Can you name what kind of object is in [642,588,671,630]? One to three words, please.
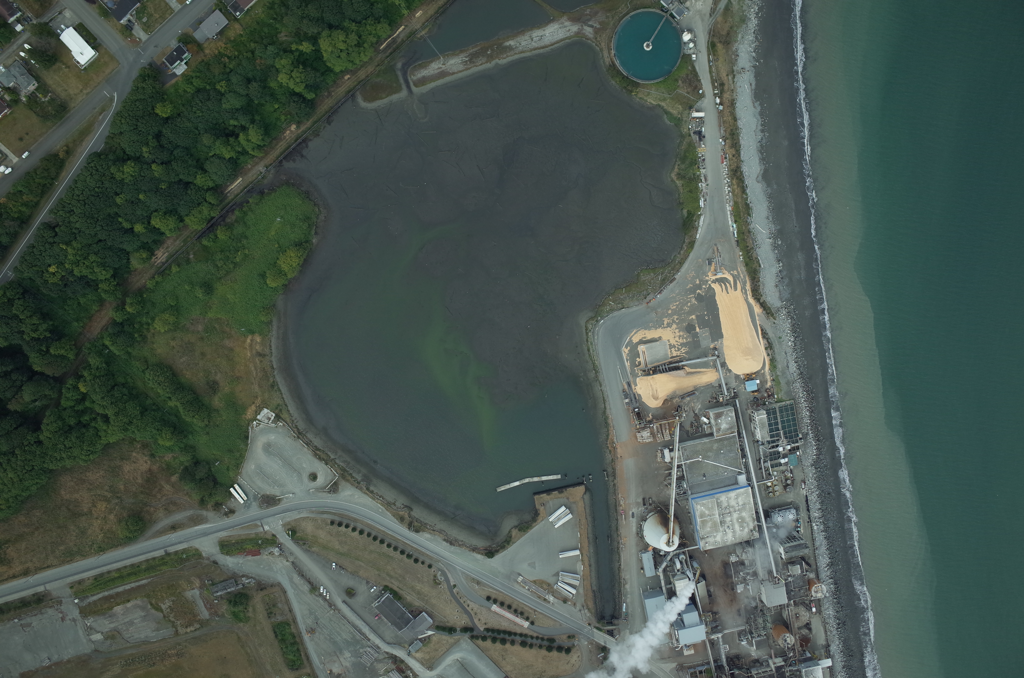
building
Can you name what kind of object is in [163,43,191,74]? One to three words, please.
house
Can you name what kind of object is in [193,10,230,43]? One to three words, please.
house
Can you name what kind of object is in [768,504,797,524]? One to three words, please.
cooling tower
